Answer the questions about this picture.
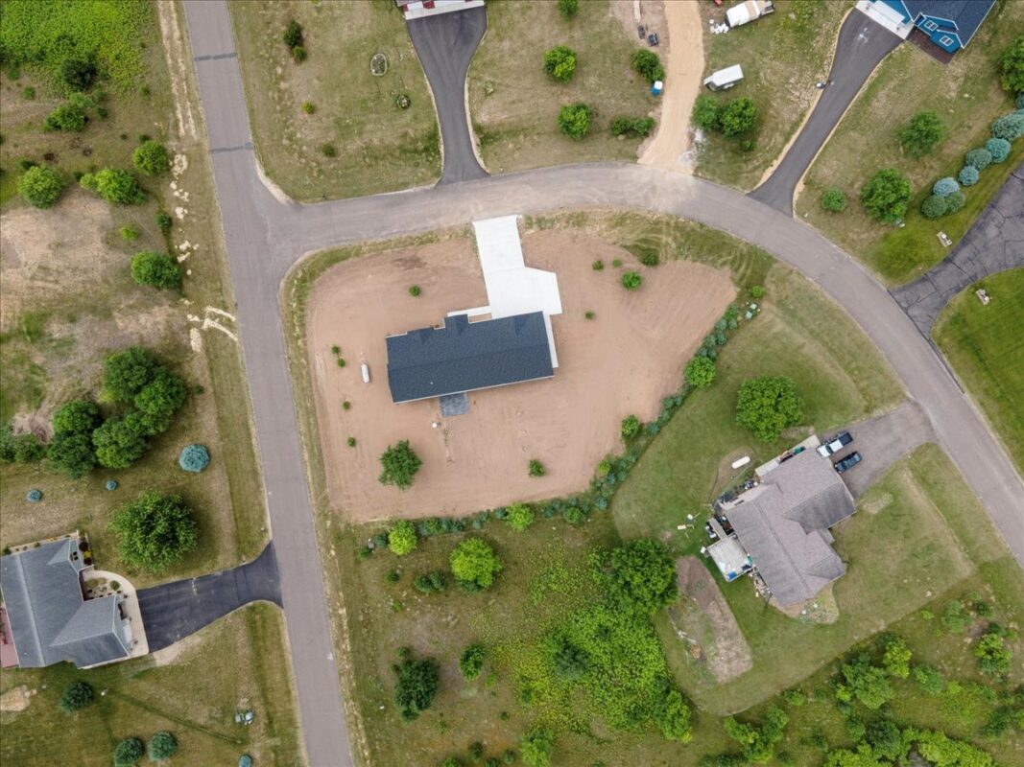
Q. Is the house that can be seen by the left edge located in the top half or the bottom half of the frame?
bottom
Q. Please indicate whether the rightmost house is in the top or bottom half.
top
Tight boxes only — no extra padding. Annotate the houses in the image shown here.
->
[858,0,994,56]
[394,0,488,16]
[725,446,855,603]
[0,537,137,669]
[385,310,553,403]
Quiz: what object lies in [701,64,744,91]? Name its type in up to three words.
trailer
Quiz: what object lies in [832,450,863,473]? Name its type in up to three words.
car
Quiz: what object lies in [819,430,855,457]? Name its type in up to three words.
truck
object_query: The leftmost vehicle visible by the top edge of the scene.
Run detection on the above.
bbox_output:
[646,32,659,49]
